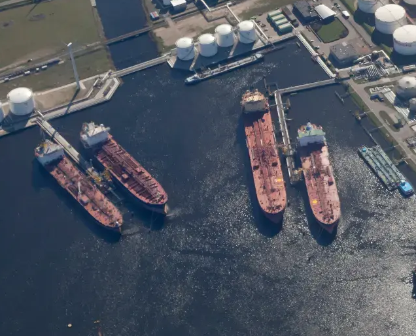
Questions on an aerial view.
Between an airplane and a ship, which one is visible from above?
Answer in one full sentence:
It is a ship that can be seen here.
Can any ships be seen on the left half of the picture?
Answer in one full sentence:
Yes, on the left half of the picture there is a ship.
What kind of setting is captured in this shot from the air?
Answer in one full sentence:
This image shows an industrial area.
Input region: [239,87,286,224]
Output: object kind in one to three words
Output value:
ship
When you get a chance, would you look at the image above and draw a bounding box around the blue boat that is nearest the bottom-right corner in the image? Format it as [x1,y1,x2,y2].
[397,179,416,200]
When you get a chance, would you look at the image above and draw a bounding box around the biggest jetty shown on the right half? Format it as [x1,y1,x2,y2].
[273,76,338,190]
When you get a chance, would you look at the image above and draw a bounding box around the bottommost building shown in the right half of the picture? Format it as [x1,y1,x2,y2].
[328,41,358,68]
